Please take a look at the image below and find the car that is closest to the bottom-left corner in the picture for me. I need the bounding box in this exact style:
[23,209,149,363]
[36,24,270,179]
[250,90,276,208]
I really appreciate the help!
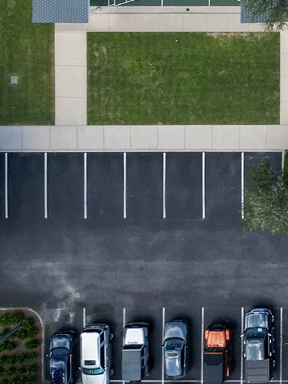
[44,335,77,384]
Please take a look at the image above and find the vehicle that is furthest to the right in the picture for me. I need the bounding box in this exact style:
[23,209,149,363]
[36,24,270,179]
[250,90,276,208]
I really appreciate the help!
[239,314,273,384]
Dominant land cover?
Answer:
paved ground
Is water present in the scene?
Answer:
No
